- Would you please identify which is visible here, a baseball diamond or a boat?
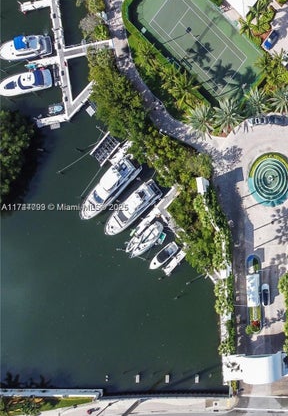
boat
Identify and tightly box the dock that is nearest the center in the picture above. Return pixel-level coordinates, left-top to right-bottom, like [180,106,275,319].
[132,194,189,249]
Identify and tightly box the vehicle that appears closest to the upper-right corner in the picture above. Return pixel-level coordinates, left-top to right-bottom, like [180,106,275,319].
[262,29,281,52]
